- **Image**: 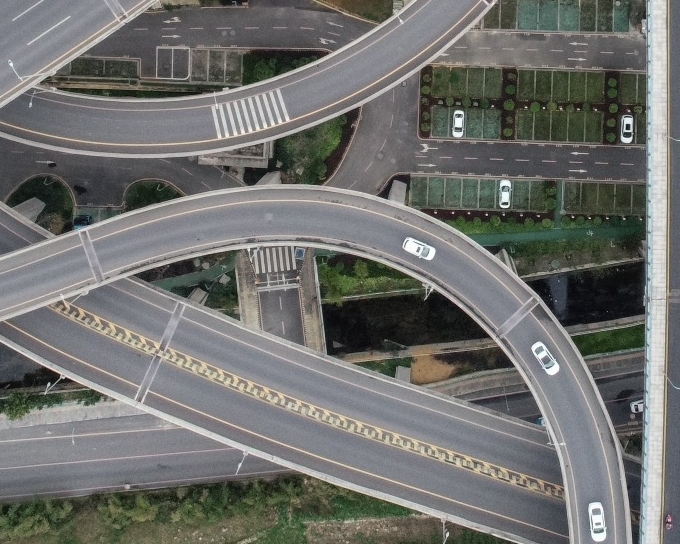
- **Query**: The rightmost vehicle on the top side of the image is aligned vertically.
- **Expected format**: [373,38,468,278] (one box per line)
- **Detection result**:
[621,115,634,143]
